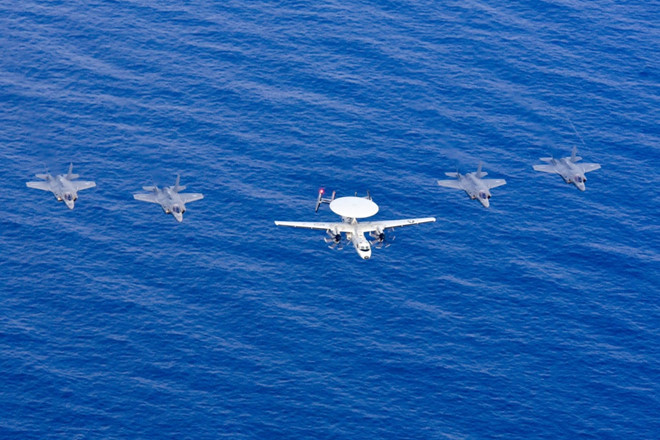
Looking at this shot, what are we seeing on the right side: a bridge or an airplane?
airplane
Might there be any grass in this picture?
No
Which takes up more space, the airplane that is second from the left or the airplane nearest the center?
the airplane nearest the center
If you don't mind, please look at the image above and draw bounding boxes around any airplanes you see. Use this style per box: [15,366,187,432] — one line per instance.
[533,146,601,191]
[438,161,506,207]
[133,175,204,222]
[27,164,95,209]
[275,189,435,260]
